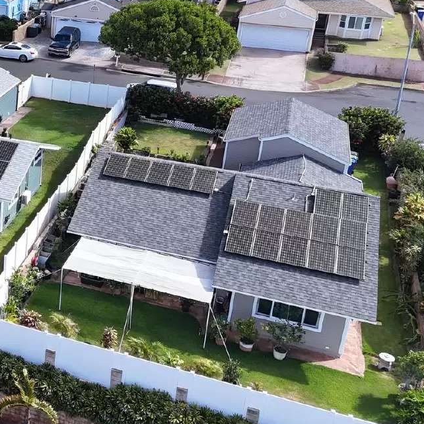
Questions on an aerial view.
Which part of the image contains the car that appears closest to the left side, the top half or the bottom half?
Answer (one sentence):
The top half of the photo is where the car that appears closest to the left side is.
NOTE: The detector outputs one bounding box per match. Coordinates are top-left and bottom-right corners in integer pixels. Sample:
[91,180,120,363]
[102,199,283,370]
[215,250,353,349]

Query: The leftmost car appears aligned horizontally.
[0,42,39,62]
